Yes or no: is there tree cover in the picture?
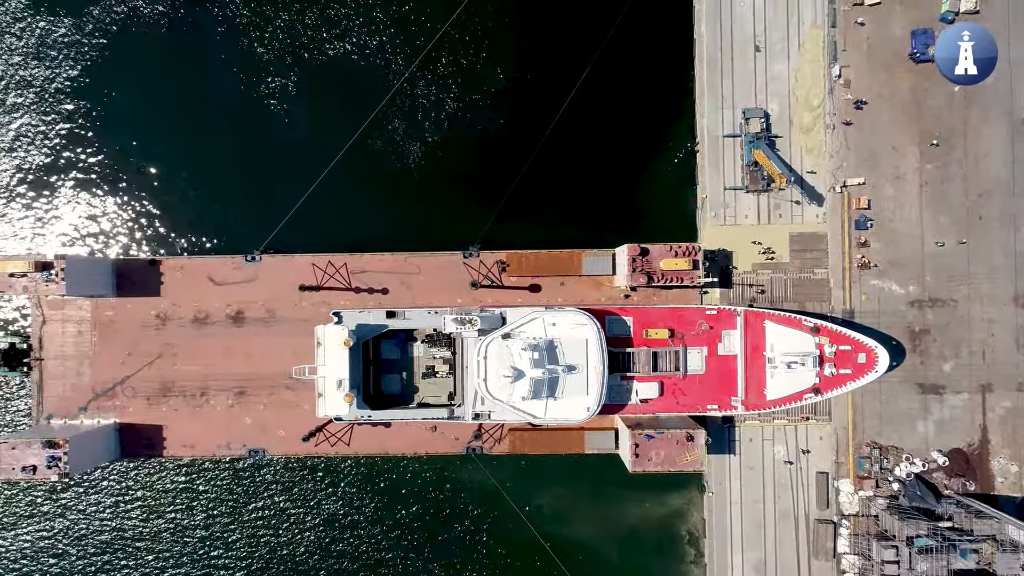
No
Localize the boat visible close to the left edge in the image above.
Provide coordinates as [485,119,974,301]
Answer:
[0,336,32,375]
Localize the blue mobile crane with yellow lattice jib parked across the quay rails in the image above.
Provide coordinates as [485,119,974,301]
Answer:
[722,107,822,204]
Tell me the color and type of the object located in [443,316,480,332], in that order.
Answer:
white boat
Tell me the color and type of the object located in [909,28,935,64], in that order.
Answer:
blue trailer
